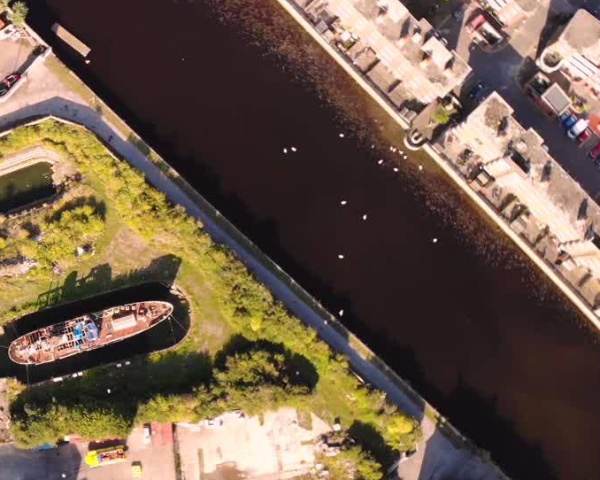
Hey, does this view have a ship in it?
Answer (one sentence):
Yes, you can see a ship in this photo.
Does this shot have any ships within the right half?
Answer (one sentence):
No, the scene shows no ship within the right half.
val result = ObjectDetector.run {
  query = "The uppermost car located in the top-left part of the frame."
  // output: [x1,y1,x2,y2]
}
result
[30,43,46,59]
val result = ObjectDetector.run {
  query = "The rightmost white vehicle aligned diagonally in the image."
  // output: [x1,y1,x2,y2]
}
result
[570,119,592,137]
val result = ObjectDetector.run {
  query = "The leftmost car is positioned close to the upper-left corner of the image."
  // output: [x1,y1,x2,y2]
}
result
[3,73,19,88]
